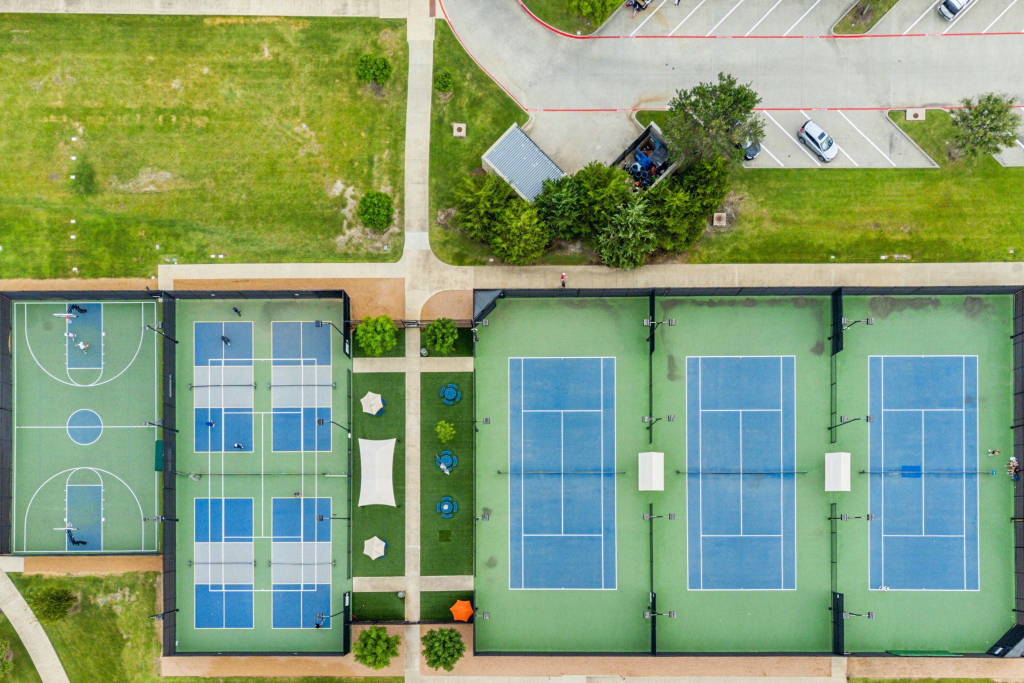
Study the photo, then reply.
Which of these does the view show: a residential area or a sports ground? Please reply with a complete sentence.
This image shows a sports ground.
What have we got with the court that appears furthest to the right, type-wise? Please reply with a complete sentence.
It looks like the court that appears furthest to the right is a tennis court.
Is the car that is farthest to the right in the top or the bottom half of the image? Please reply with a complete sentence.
You can find the car that is farthest to the right in the top half.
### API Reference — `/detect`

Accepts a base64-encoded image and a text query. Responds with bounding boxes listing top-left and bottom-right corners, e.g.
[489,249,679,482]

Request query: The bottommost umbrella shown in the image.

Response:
[450,600,473,622]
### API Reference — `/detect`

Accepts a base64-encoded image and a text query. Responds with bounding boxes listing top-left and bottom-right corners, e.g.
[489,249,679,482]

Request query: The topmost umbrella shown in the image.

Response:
[361,392,384,415]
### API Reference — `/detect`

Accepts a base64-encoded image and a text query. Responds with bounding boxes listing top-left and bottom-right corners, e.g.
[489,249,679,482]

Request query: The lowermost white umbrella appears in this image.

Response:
[364,537,385,560]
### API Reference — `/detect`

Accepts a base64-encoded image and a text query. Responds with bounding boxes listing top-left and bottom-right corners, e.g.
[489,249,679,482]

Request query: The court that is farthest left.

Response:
[11,299,158,554]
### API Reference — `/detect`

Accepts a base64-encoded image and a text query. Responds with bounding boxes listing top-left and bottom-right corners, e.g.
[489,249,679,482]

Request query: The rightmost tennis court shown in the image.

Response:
[832,295,1017,653]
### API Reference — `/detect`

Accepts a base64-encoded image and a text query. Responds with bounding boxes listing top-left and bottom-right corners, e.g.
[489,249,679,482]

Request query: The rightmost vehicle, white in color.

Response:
[937,0,971,22]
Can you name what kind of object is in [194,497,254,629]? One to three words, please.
sports court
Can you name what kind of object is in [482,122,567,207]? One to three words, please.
shed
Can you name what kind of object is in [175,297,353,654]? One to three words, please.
tennis court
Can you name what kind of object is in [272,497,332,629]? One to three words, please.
sports court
